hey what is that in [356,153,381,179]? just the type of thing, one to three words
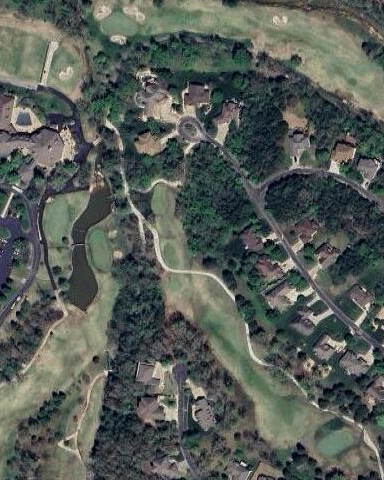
house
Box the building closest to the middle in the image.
[239,227,265,252]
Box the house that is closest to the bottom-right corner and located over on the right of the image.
[364,375,384,399]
